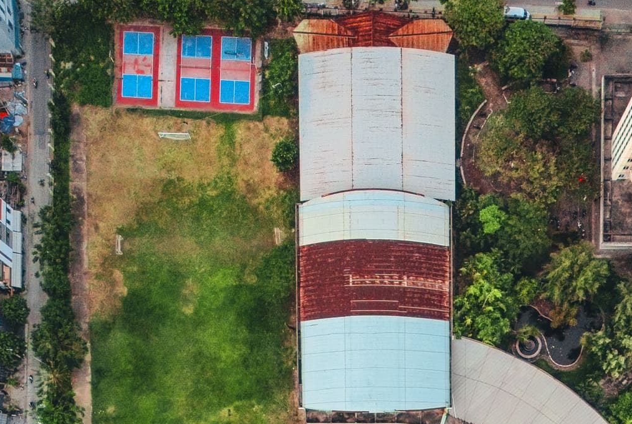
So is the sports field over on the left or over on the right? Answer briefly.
left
